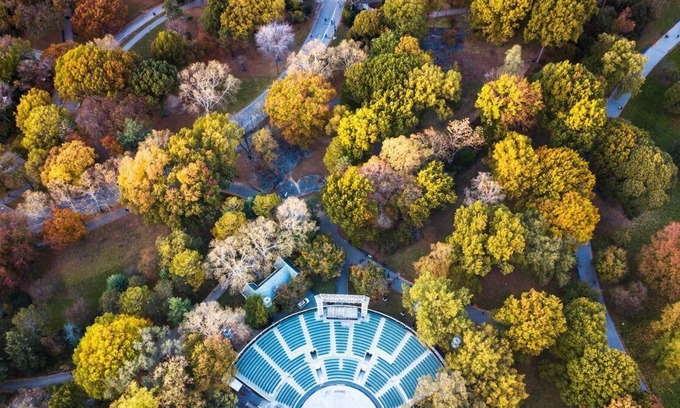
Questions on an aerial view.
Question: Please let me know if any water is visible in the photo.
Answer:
No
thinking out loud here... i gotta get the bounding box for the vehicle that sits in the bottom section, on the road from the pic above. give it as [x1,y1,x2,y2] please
[296,296,311,309]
